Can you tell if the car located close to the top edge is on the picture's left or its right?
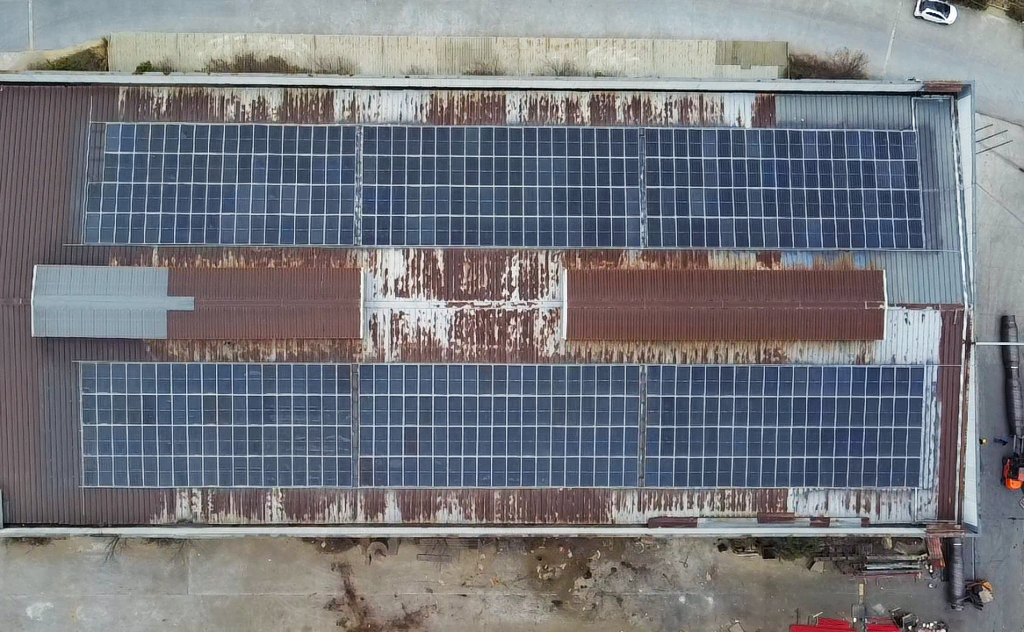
right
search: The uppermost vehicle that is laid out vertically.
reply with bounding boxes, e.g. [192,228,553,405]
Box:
[1003,443,1024,489]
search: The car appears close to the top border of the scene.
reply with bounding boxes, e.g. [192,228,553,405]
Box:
[915,0,959,24]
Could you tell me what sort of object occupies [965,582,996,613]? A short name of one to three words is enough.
work vehicle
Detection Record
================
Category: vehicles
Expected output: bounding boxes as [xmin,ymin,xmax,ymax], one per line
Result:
[915,0,959,24]
[1003,443,1024,489]
[965,582,996,613]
